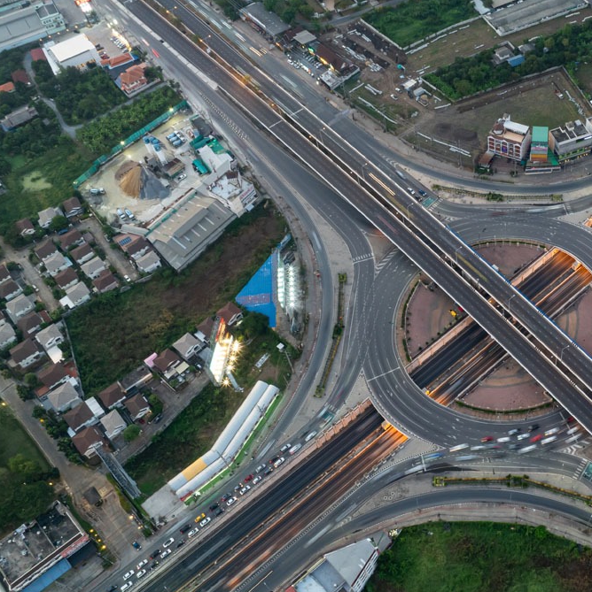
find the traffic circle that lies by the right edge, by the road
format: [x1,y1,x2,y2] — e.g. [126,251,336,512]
[356,210,592,461]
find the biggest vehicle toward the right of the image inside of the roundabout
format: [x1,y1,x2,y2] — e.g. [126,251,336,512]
[446,440,472,454]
